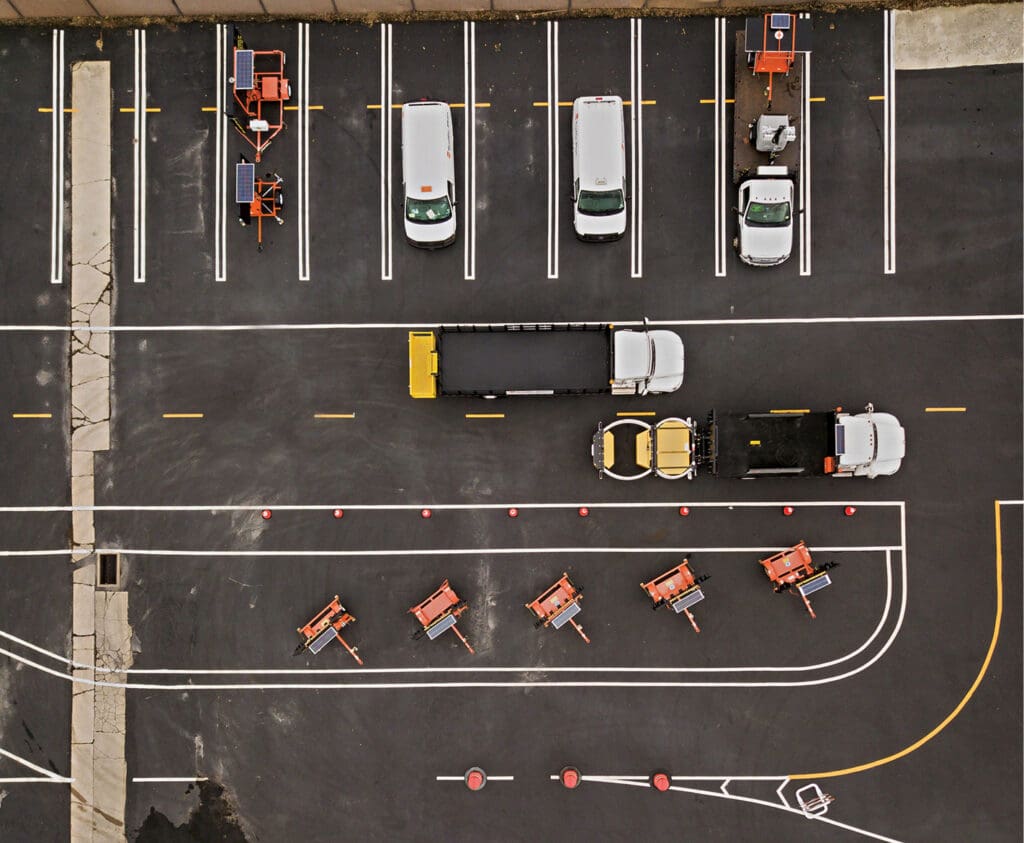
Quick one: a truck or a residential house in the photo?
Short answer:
truck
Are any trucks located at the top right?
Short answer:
Yes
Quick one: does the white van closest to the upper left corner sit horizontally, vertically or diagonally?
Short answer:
vertically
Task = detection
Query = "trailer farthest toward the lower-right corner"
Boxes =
[753,539,837,618]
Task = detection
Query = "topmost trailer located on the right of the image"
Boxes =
[745,13,812,110]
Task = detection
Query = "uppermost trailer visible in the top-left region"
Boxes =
[228,24,293,162]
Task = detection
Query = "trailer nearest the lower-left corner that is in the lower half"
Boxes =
[294,594,365,665]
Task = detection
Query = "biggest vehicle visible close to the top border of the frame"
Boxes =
[731,32,807,267]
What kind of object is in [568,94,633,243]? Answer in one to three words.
van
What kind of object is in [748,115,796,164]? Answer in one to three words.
trailer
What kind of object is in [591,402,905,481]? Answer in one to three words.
truck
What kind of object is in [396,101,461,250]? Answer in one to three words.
van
